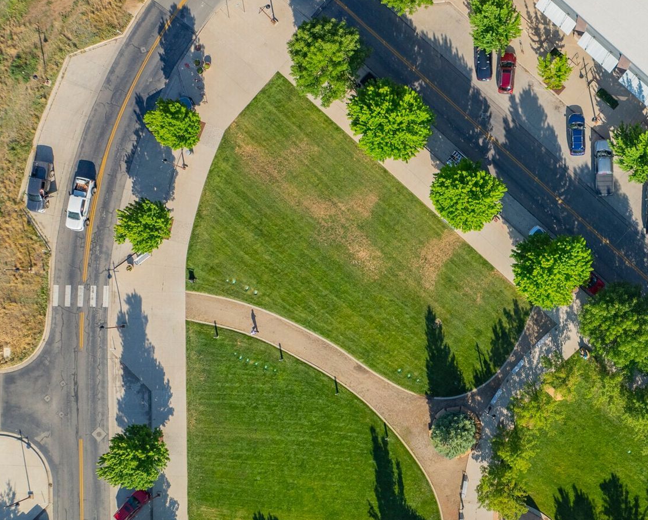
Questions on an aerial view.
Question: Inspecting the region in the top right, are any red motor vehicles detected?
Yes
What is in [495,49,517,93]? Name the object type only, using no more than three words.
car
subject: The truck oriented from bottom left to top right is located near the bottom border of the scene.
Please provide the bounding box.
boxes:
[104,490,150,520]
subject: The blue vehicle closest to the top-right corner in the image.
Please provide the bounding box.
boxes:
[567,111,589,155]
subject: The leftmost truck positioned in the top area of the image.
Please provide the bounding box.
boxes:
[23,159,54,210]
